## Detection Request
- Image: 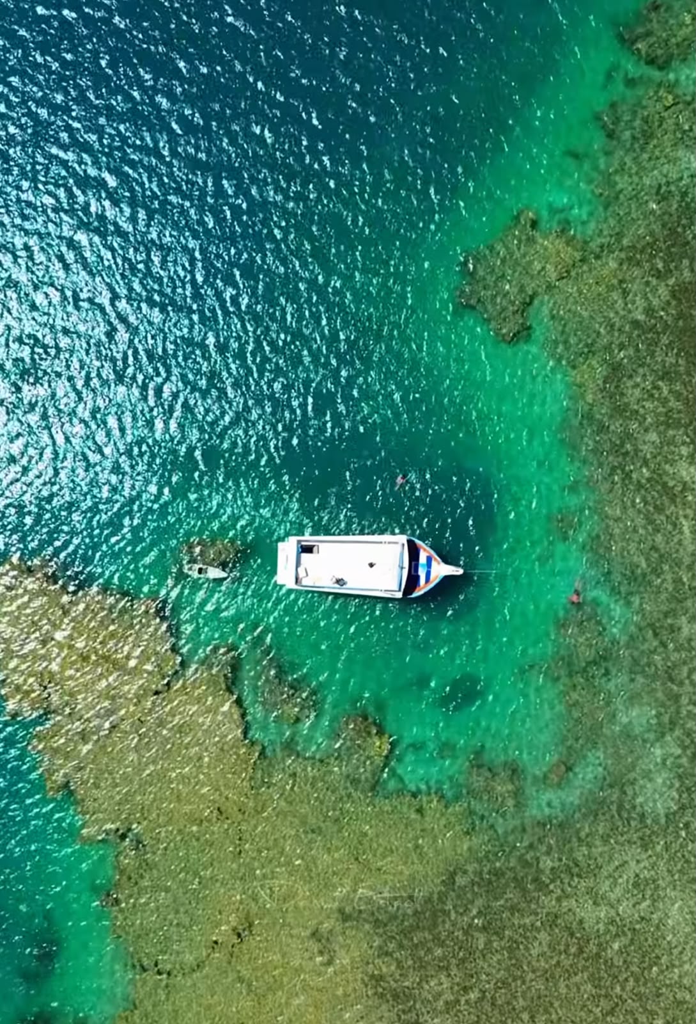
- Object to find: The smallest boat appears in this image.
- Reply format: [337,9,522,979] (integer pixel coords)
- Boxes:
[183,564,229,579]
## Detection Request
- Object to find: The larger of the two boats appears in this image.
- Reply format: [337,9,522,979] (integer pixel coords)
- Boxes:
[277,535,464,598]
